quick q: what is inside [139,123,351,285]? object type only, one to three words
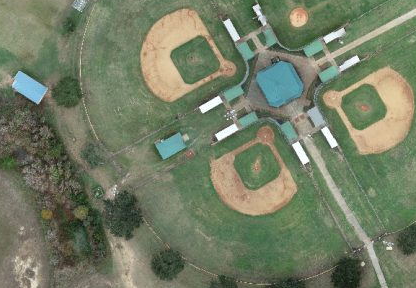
baseball field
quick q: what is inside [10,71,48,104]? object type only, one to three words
building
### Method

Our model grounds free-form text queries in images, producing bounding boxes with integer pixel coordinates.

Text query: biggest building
[256,61,303,107]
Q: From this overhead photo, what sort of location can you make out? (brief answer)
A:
sports ground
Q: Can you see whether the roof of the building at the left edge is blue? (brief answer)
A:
Yes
